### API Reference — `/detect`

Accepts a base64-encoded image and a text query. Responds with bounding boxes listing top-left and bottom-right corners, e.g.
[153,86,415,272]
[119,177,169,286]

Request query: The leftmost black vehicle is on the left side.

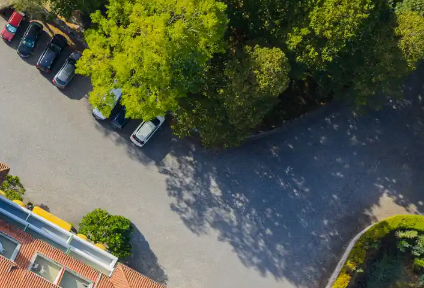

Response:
[13,14,47,60]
